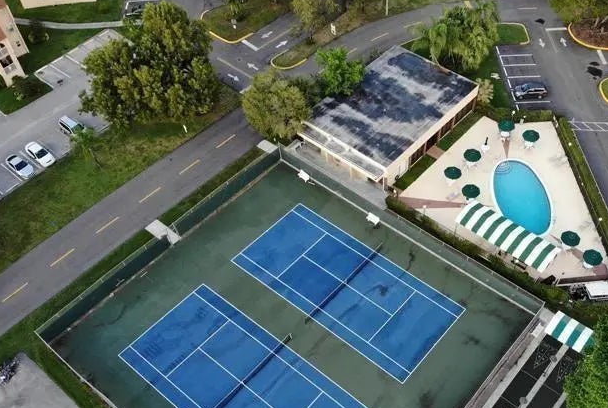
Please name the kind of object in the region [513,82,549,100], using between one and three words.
car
